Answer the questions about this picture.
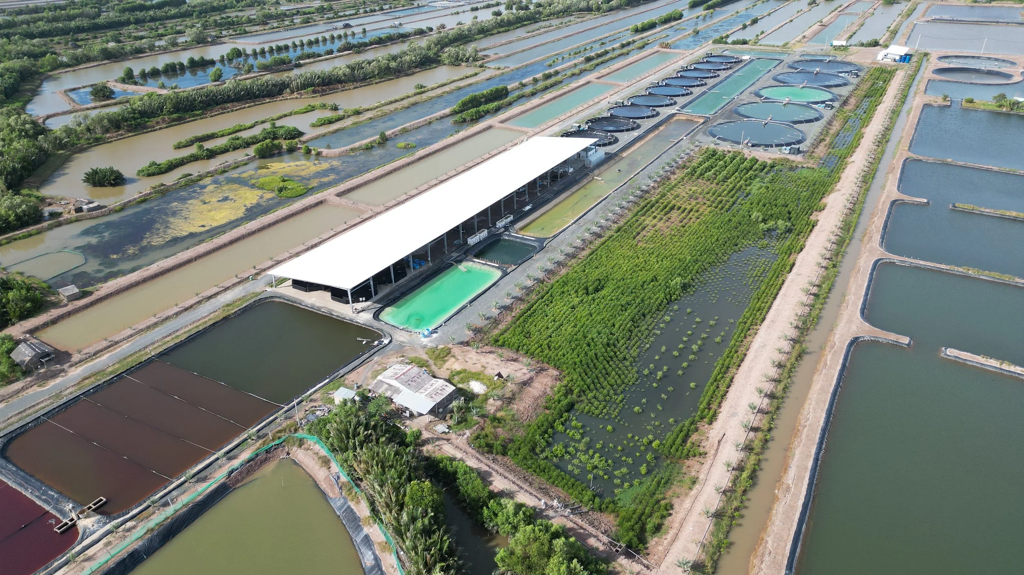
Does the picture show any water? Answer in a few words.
Yes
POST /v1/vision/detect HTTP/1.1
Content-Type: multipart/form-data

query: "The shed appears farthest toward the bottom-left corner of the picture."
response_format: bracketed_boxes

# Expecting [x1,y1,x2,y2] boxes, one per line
[8,344,59,377]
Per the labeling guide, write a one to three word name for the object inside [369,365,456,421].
house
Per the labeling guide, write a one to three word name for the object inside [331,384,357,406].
shed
